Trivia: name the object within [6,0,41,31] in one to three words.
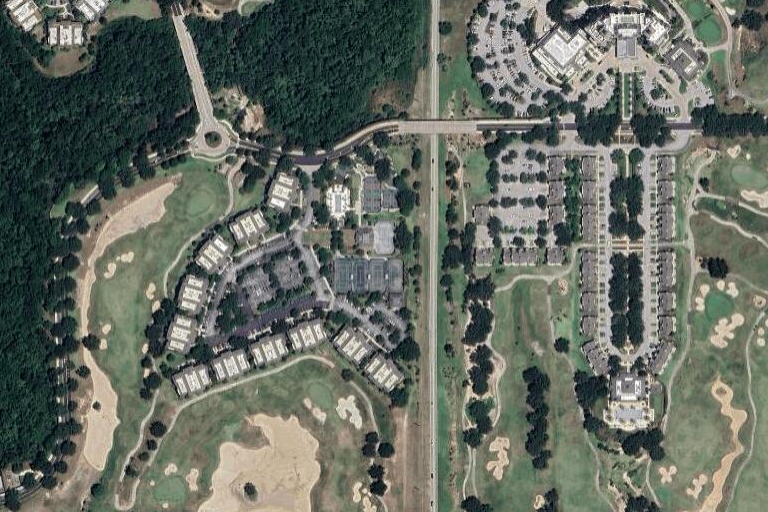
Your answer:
building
